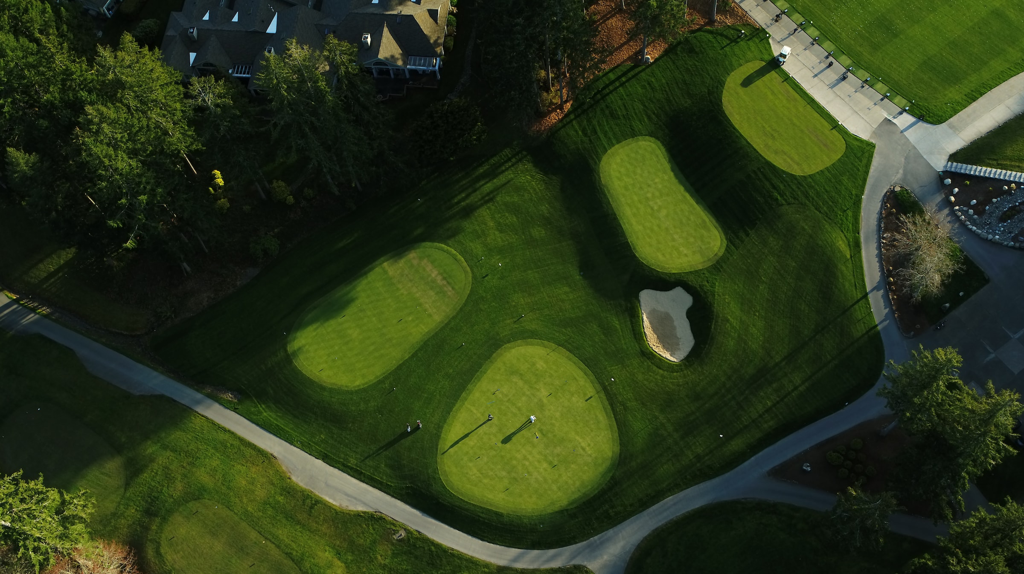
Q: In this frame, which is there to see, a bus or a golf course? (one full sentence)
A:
Of the two, only a golf course appears.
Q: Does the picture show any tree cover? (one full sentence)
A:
Yes, the picture does contain tree cover.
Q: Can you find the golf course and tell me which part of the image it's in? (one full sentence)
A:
The golf course appears toward the center of the photo.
